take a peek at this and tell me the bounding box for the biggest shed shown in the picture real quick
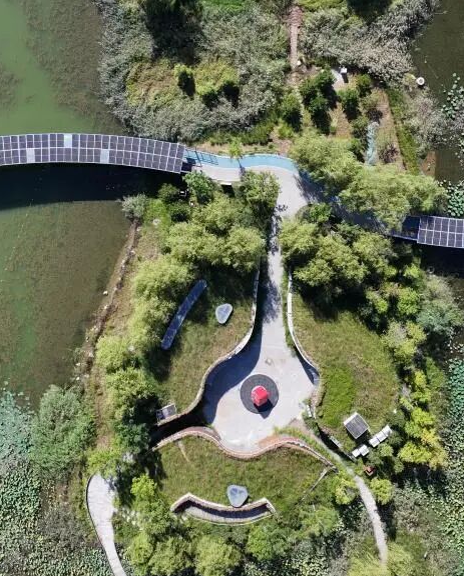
[339,409,367,436]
